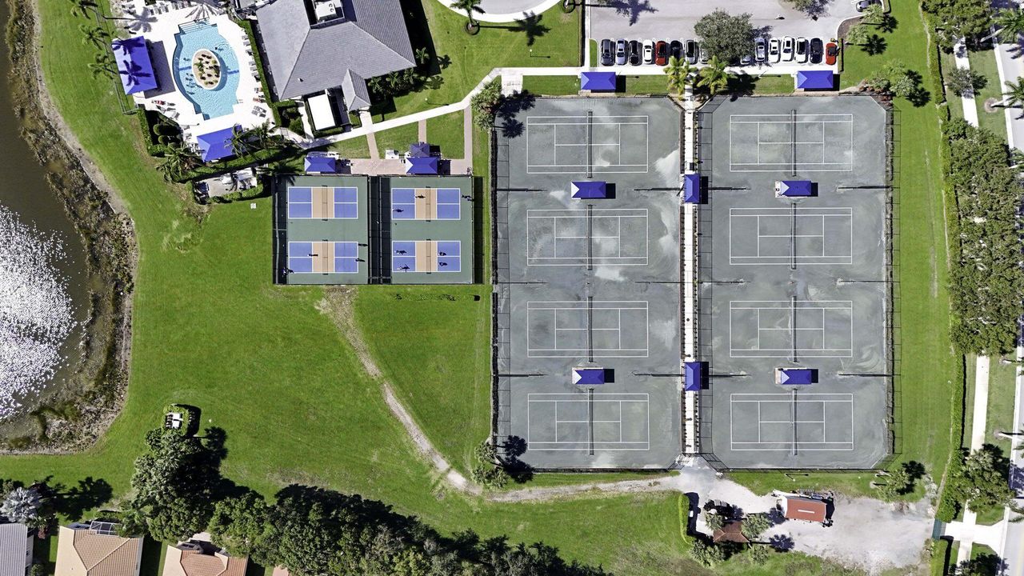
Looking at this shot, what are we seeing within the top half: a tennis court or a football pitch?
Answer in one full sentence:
You can see a tennis court within the top half.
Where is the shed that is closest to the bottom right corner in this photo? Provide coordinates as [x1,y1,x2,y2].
[780,495,827,523]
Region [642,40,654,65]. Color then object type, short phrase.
white vehicle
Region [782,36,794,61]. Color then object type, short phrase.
white vehicle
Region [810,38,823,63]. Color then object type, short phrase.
black vehicle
